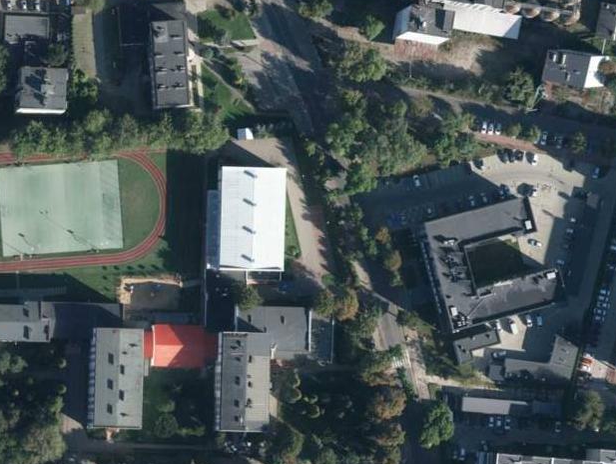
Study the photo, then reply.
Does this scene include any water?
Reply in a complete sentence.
No, the picture contains no water.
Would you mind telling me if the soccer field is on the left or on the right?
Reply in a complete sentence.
The soccer field is on the left side of the image.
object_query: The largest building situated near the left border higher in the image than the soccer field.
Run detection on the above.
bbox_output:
[14,67,68,114]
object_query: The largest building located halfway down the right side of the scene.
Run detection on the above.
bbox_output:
[419,198,565,333]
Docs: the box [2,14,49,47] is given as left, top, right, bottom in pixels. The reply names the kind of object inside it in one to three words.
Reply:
building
